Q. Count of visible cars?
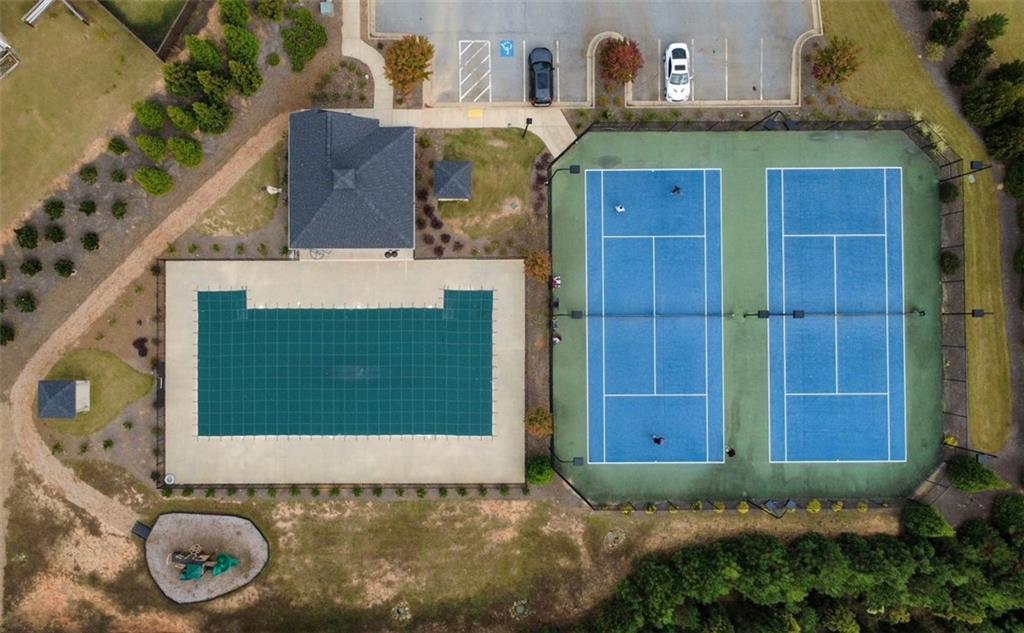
2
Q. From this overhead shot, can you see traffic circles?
No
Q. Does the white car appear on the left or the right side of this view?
right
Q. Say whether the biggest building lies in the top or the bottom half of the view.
top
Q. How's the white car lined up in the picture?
up and down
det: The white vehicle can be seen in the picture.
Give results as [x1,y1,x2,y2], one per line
[667,42,695,103]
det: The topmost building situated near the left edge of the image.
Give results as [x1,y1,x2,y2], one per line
[38,380,90,418]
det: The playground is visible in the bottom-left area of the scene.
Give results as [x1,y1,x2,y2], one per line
[130,512,270,606]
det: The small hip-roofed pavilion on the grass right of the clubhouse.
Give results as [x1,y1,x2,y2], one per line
[433,161,473,202]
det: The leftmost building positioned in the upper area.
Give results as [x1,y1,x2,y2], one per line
[287,108,415,249]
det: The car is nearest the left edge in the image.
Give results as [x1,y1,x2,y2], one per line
[528,48,555,107]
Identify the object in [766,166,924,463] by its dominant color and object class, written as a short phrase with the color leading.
blue tennis court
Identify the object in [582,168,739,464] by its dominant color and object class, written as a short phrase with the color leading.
blue tennis court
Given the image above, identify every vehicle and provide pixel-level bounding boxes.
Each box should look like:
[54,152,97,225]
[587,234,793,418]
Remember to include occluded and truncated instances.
[667,42,695,103]
[528,48,555,107]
